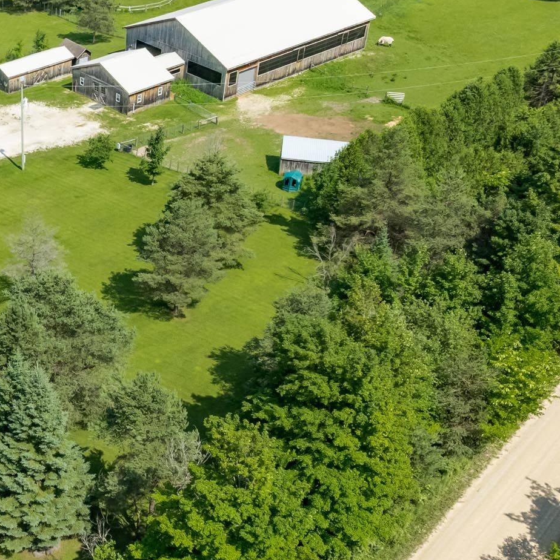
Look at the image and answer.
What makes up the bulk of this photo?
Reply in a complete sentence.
Most of the picture is covered by trees.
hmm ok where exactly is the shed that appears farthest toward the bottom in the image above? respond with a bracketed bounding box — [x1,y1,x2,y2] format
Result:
[279,133,359,179]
